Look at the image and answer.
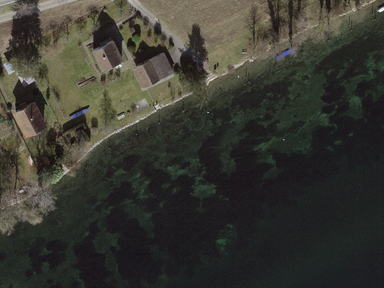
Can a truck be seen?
No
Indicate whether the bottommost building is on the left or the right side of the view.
left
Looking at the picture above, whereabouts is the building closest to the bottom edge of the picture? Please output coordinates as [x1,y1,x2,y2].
[65,126,91,146]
